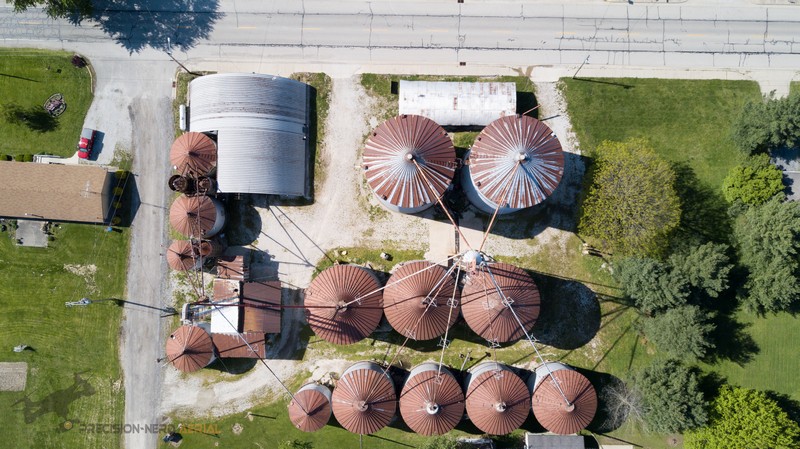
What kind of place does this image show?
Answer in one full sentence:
What you see here is an industrial area.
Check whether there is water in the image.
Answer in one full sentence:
No, no water is visible.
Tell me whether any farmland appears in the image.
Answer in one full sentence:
No, no farmland is visible.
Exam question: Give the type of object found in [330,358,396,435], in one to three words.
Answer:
silo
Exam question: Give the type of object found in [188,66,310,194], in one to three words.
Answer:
barn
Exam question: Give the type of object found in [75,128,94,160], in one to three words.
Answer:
vehicle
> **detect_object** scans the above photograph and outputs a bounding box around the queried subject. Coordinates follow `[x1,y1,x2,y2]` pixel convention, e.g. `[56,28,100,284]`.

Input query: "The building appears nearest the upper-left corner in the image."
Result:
[0,162,113,223]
